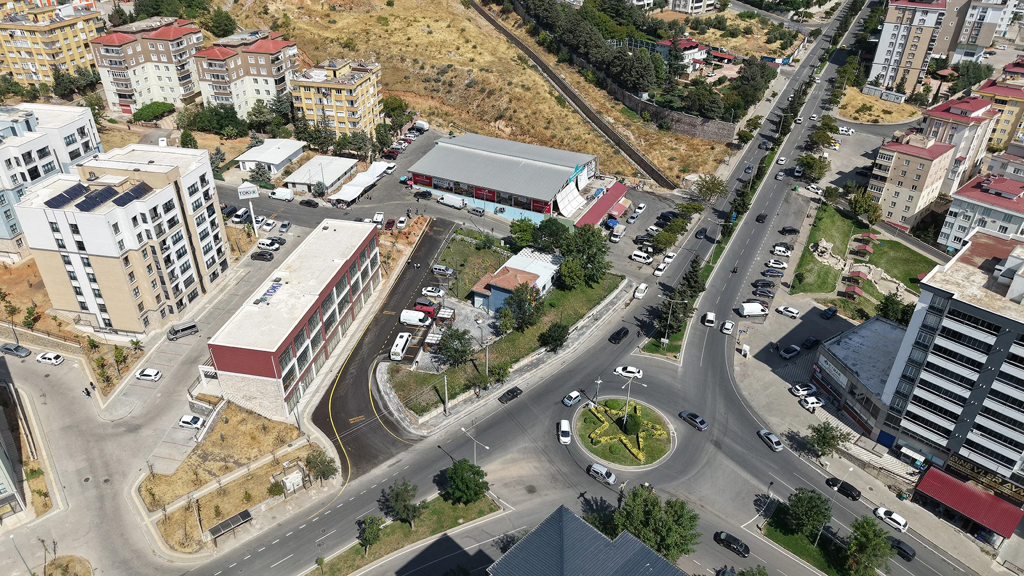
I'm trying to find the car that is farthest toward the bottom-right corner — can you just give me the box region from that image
[891,535,924,567]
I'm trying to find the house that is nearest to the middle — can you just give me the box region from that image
[470,247,568,305]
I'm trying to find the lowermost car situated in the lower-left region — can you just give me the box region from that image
[175,414,207,430]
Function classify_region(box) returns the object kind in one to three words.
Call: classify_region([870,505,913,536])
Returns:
car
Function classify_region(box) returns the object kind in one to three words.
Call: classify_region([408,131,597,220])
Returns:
building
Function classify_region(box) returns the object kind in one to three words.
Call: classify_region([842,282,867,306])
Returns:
gazebo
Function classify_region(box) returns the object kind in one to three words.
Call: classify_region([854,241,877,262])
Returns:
gazebo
